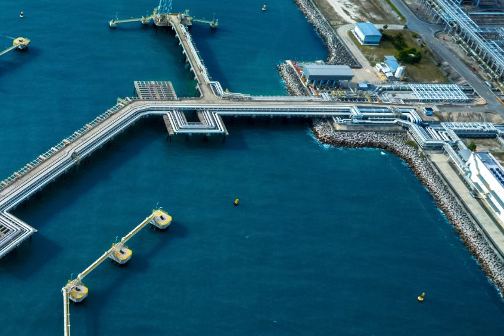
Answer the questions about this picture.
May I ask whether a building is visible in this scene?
Yes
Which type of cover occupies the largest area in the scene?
water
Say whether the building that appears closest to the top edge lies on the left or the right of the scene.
right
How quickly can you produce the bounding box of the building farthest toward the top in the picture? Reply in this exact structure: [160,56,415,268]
[350,20,384,46]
